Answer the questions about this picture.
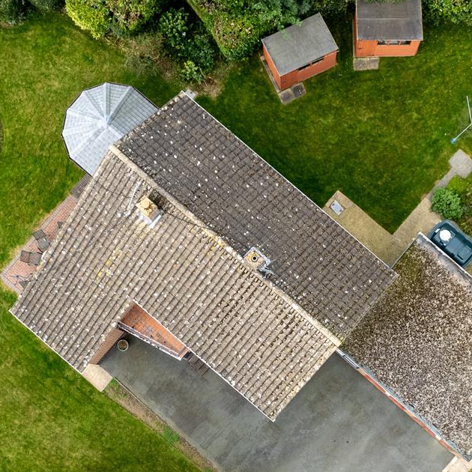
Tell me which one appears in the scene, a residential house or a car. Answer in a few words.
residential house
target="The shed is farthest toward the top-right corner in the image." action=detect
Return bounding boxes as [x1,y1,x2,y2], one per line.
[355,0,422,57]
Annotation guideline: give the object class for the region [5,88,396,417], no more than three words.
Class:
house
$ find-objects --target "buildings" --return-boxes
[355,0,422,57]
[262,12,338,90]
[5,88,396,417]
